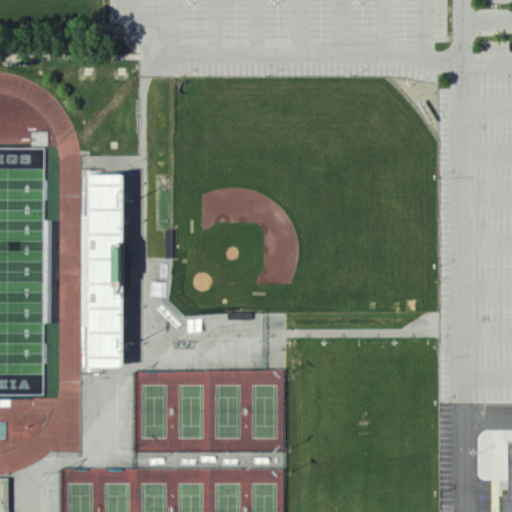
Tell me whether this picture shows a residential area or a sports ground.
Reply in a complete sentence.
This image shows a sports ground.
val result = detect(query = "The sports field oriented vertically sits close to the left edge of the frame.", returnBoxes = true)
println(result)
[0,144,59,398]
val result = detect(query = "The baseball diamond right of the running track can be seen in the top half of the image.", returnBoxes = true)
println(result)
[172,78,438,316]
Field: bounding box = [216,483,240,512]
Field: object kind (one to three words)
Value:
tennis court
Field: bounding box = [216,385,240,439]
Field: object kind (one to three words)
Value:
tennis court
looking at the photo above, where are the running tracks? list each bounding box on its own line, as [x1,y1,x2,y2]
[0,73,81,474]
